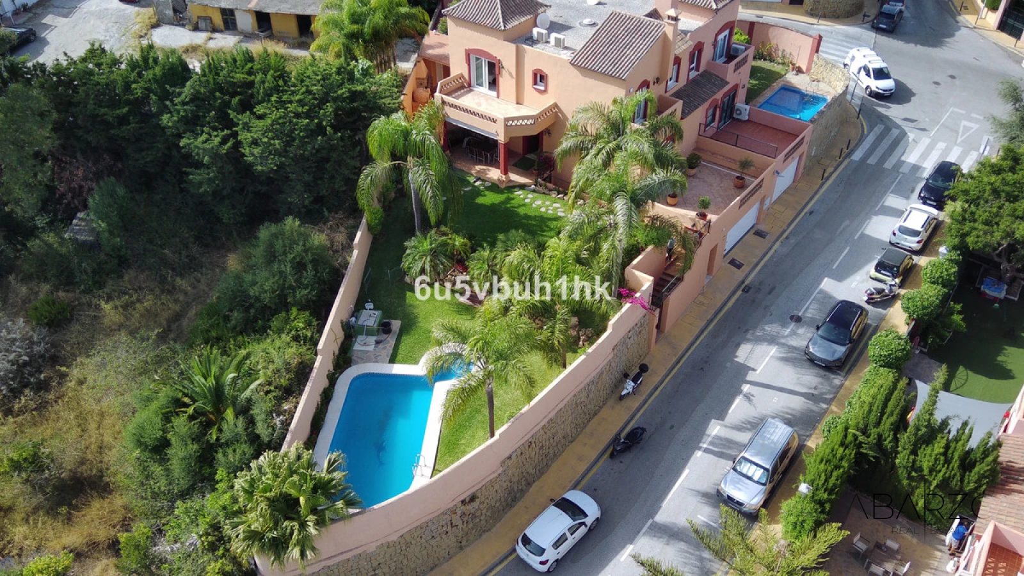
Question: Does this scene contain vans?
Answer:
Yes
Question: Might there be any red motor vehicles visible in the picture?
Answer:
No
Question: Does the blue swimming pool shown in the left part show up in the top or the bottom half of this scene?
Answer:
bottom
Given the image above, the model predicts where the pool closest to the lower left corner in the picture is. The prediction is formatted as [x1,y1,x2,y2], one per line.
[307,346,483,511]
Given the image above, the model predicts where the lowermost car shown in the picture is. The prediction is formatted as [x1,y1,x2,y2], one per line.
[512,492,601,576]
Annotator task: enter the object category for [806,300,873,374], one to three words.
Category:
car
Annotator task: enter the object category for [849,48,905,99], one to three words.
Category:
van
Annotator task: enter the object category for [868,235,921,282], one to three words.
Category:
car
